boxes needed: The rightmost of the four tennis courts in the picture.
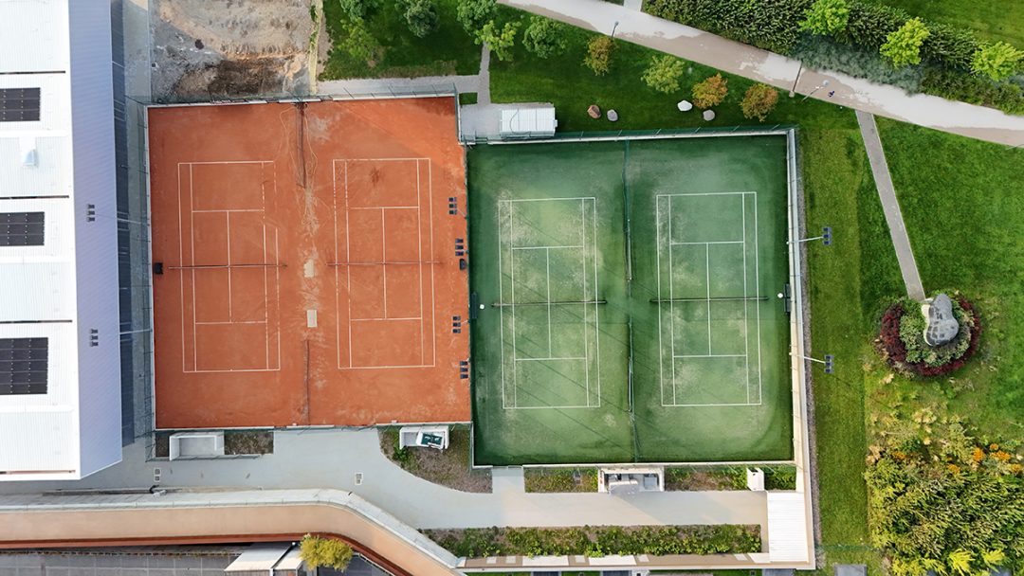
[626,134,793,463]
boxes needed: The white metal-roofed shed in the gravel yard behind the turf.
[500,107,560,140]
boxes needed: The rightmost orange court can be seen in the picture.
[302,96,471,425]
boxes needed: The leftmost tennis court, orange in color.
[151,100,307,428]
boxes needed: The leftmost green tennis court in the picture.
[467,140,633,467]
